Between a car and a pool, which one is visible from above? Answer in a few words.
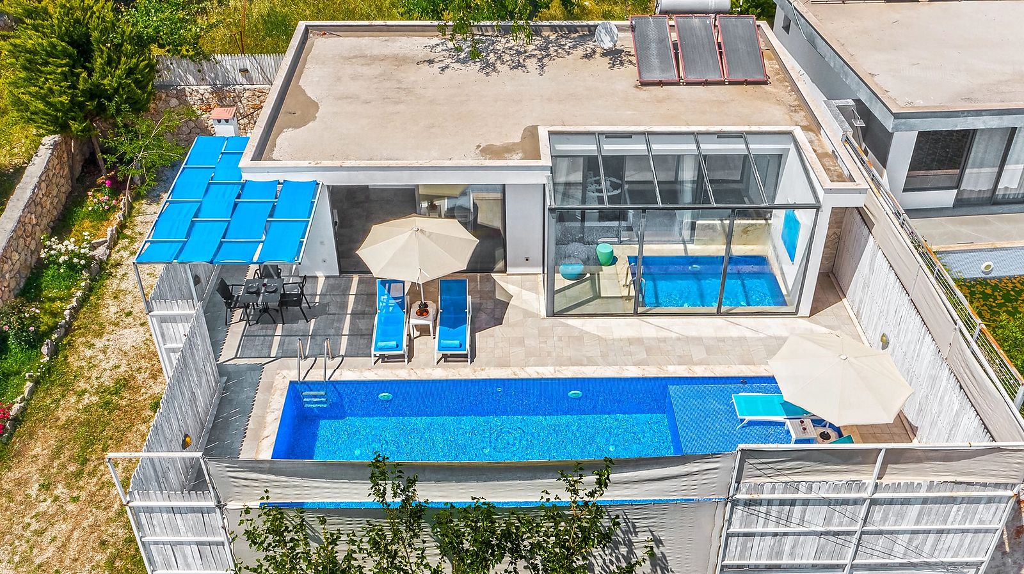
pool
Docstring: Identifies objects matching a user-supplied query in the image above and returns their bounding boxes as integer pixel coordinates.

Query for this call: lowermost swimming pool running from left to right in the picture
[229,365,872,551]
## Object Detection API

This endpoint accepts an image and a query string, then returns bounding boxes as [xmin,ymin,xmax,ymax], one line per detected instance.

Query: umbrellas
[355,212,481,315]
[766,329,914,439]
